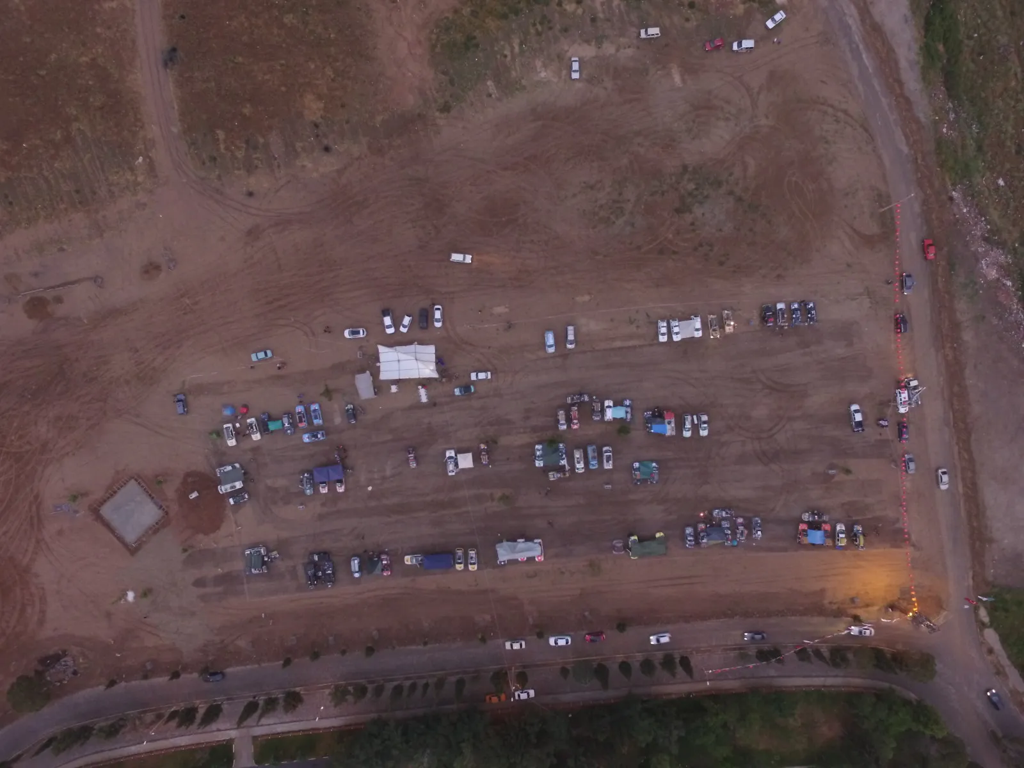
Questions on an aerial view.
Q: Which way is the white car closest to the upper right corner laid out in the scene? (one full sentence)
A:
In this picture, the white car closest to the upper right corner is oriented on a diagonal.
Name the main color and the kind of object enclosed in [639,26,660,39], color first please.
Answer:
white vehicle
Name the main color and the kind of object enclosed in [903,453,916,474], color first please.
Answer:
gray vehicle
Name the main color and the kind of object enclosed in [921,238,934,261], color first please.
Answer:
red vehicle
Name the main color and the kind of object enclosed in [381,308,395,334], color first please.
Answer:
white vehicle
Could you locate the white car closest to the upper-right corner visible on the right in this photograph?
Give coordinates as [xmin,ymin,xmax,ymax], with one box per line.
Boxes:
[764,9,786,31]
